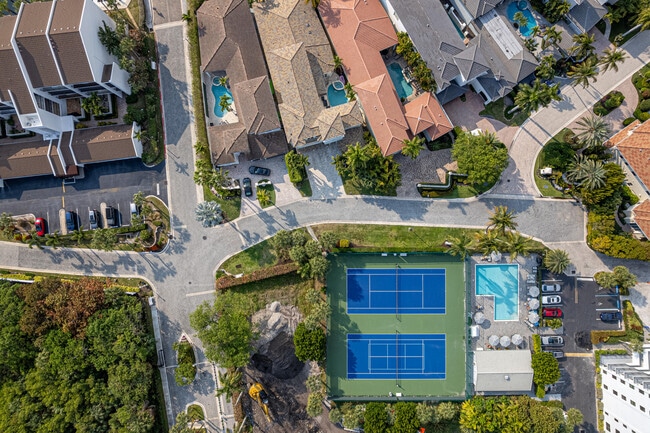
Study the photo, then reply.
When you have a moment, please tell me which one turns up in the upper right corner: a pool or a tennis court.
pool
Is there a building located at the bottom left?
No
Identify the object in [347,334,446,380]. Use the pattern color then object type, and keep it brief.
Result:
blue tennis court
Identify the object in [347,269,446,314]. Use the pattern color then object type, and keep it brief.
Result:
blue tennis court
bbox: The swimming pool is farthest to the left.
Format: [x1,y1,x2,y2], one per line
[209,76,234,118]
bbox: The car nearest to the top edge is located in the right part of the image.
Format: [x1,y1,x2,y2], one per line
[547,82,564,100]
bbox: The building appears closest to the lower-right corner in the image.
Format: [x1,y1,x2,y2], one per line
[602,360,650,433]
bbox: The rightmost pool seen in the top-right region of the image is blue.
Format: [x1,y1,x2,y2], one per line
[505,0,538,37]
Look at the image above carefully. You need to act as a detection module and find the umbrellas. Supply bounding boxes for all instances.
[500,335,510,347]
[528,298,539,309]
[491,250,501,261]
[528,286,540,296]
[488,335,500,345]
[528,312,540,322]
[512,333,522,345]
[474,312,485,323]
